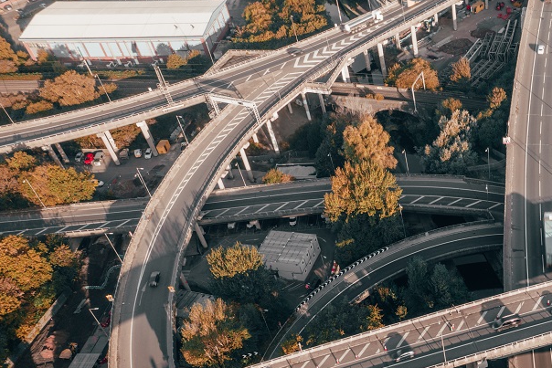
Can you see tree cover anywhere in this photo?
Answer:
Yes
